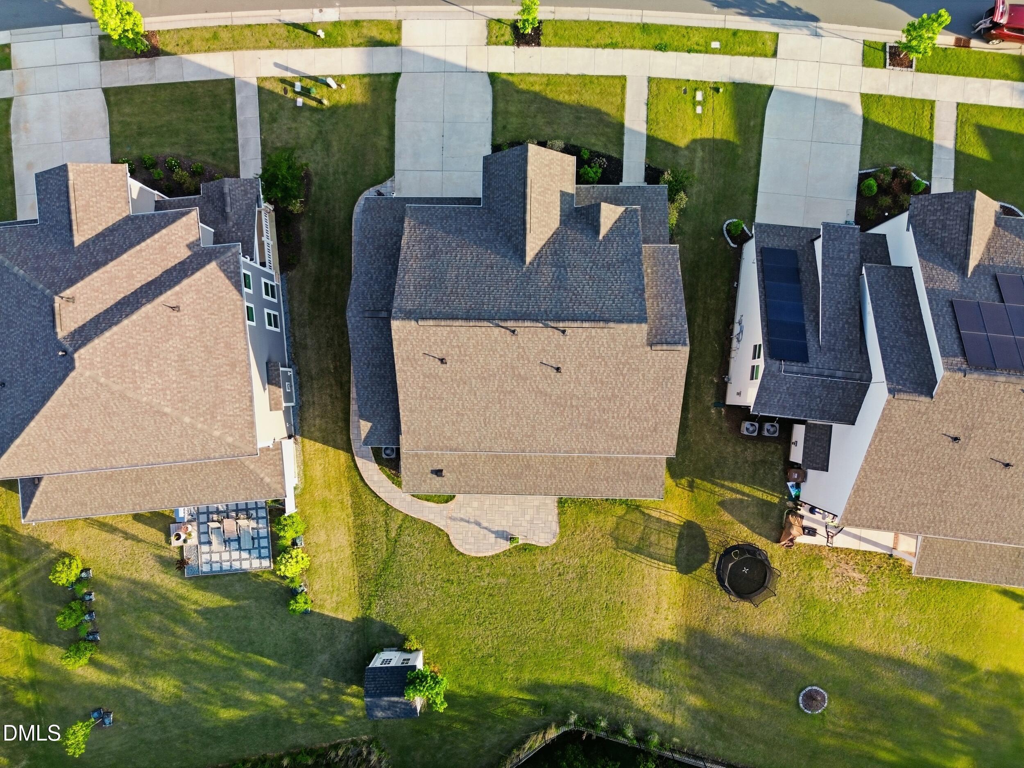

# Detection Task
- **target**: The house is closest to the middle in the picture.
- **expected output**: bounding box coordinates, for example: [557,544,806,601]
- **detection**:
[347,143,690,500]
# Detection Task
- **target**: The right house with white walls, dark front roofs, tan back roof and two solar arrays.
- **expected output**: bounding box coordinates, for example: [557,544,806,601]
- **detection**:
[721,190,1024,589]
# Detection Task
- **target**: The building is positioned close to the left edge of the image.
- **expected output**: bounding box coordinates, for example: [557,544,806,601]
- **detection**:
[0,163,299,524]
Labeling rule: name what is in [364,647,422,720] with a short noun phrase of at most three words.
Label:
shed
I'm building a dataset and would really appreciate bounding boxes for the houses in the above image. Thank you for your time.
[347,143,690,500]
[0,163,299,524]
[721,190,1024,589]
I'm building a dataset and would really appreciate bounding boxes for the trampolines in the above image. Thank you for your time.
[710,538,782,606]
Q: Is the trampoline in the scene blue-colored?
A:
No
